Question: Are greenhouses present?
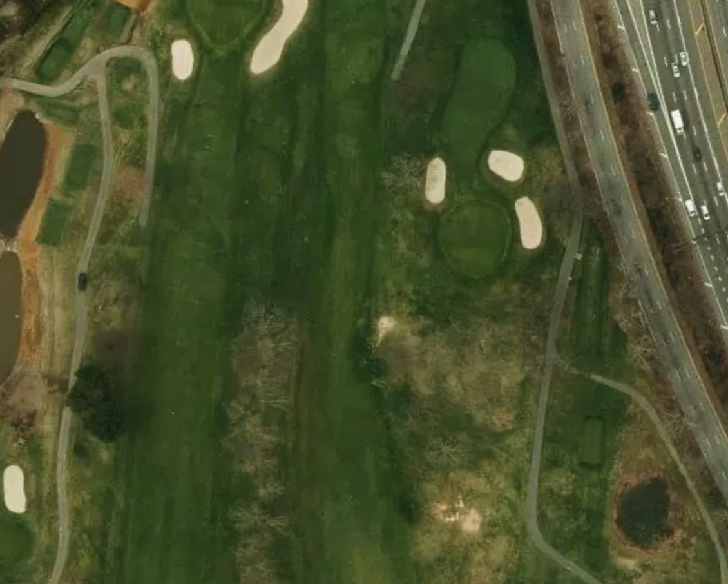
No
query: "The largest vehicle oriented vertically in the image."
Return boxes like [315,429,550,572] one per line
[672,109,684,134]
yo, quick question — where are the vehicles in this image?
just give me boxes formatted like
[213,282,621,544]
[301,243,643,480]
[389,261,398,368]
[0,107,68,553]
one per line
[79,273,86,290]
[686,199,696,216]
[680,50,688,65]
[649,10,658,25]
[648,93,659,109]
[702,203,710,218]
[672,62,680,78]
[693,145,702,160]
[672,109,684,134]
[716,181,725,195]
